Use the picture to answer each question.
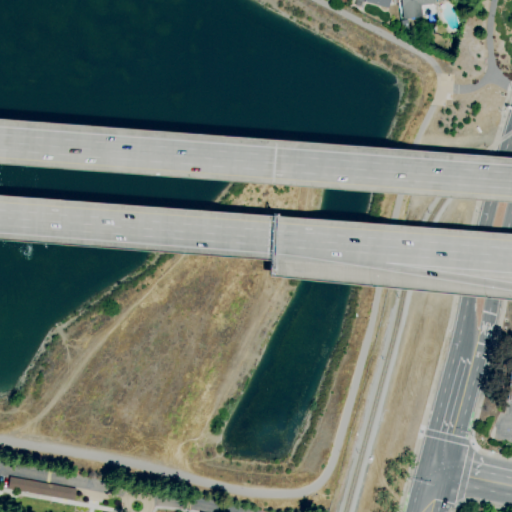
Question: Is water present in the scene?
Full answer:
Yes, the picture does contain water.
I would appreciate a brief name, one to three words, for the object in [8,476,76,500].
building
